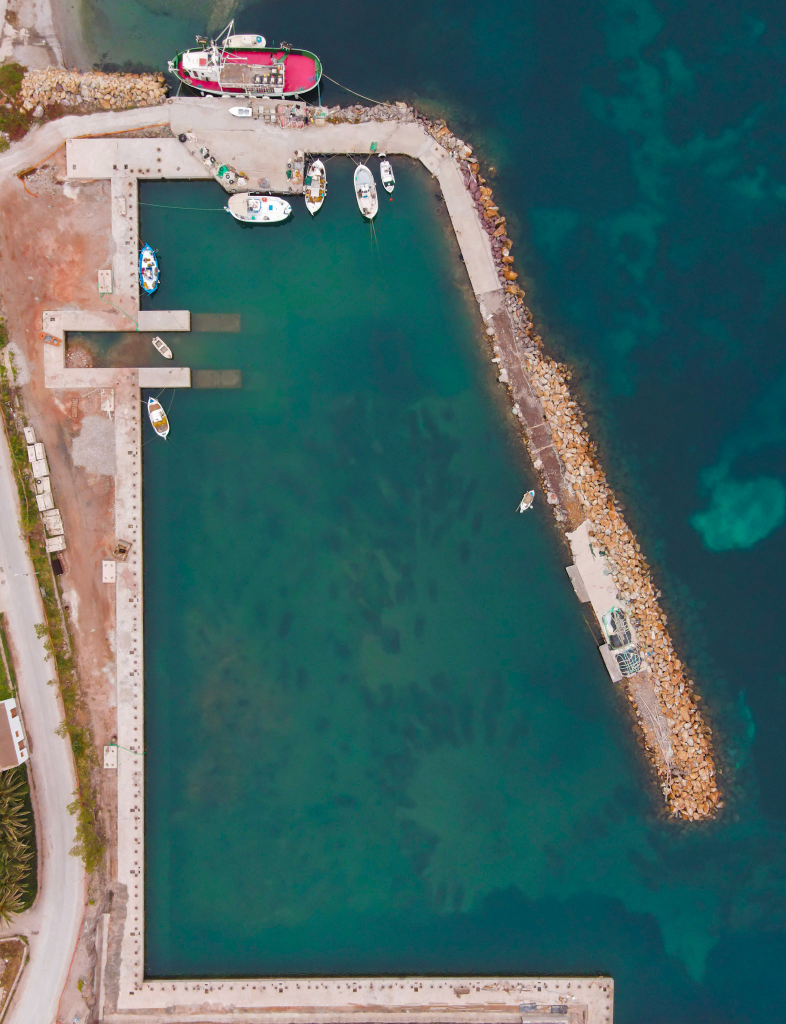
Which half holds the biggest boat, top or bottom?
top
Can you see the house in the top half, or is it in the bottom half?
bottom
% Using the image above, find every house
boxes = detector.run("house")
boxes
[0,697,32,772]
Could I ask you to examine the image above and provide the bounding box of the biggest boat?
[168,20,323,101]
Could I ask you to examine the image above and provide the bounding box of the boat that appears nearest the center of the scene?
[516,490,535,513]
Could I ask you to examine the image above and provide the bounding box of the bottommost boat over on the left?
[148,396,168,440]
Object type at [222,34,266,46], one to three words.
boat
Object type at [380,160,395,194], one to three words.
boat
